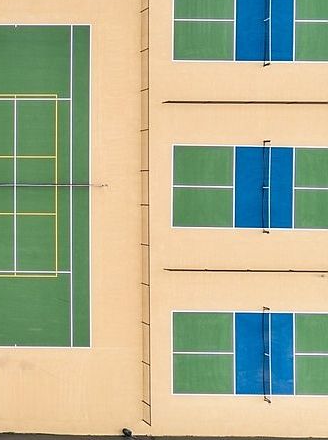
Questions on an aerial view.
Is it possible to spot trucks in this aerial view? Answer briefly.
No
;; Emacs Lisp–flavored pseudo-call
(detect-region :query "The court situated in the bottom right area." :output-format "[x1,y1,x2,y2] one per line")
[172,311,328,395]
